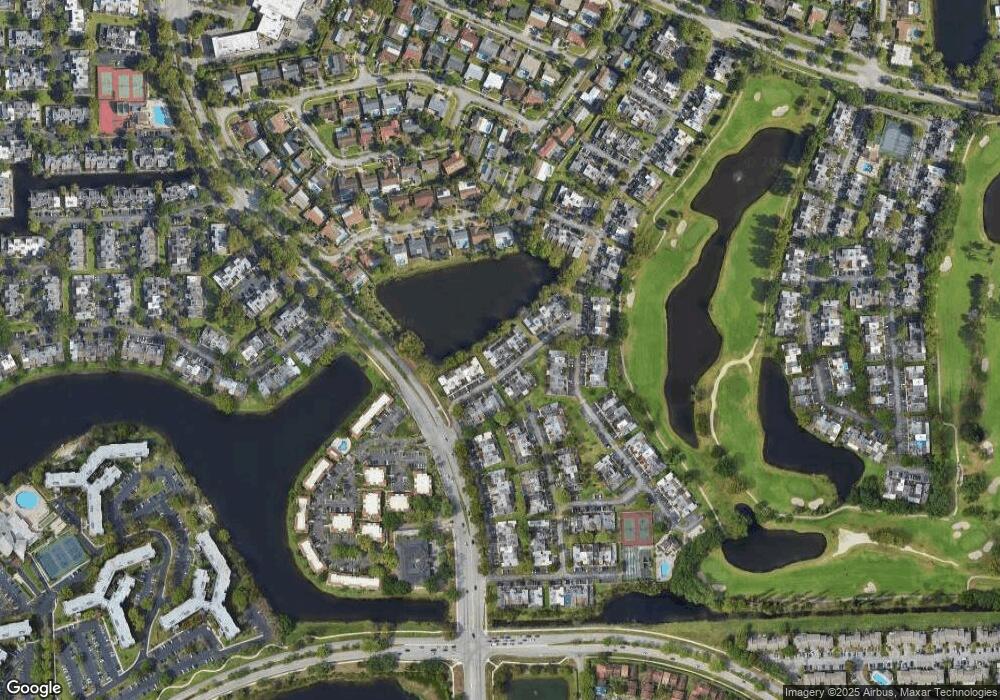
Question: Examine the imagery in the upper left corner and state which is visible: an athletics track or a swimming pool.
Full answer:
The feature located in the upper left corner is a swimming pool.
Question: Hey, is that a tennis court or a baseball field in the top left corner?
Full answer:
Looking in the top left corner, you will find a tennis court.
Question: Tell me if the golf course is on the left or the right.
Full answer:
The golf course sits on the right side.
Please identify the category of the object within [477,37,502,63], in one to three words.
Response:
house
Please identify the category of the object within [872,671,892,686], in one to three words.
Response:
swimming pool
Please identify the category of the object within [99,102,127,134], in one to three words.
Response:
sports court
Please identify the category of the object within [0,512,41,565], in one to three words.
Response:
building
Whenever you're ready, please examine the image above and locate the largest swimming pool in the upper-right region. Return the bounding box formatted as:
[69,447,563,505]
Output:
[856,155,882,178]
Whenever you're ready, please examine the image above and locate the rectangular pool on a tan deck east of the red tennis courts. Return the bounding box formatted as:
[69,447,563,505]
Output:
[140,100,177,130]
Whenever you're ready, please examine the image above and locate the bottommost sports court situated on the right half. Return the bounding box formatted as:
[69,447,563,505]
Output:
[622,547,652,580]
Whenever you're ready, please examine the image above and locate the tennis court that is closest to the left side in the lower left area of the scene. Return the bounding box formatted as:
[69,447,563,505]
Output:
[34,535,90,582]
